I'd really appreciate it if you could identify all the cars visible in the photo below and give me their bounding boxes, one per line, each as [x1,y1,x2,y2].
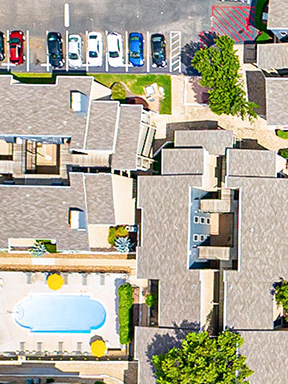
[85,31,105,67]
[127,31,146,67]
[46,32,66,68]
[150,32,168,68]
[0,30,7,61]
[106,31,125,67]
[66,33,85,69]
[6,30,27,65]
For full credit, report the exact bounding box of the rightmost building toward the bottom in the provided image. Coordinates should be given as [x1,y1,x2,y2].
[134,130,288,384]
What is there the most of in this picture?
buildings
